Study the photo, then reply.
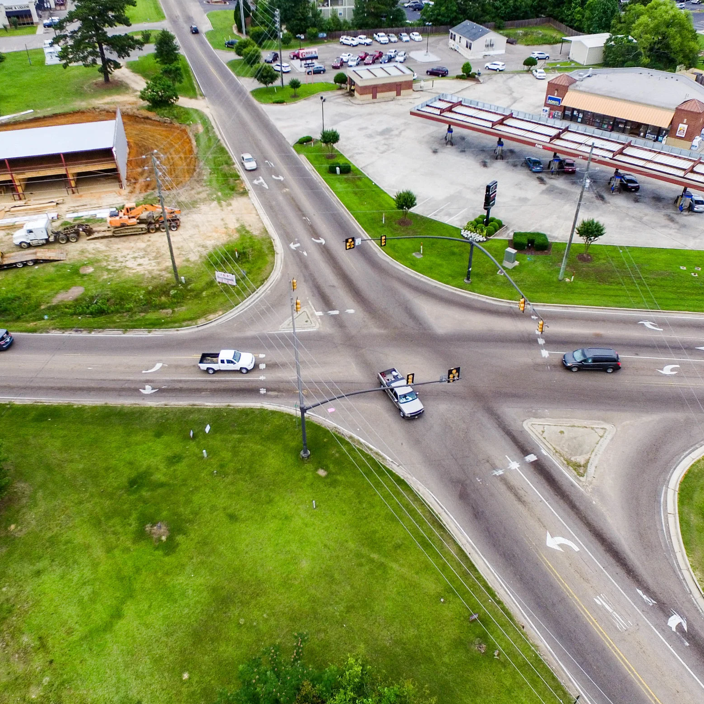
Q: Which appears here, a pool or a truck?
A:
truck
